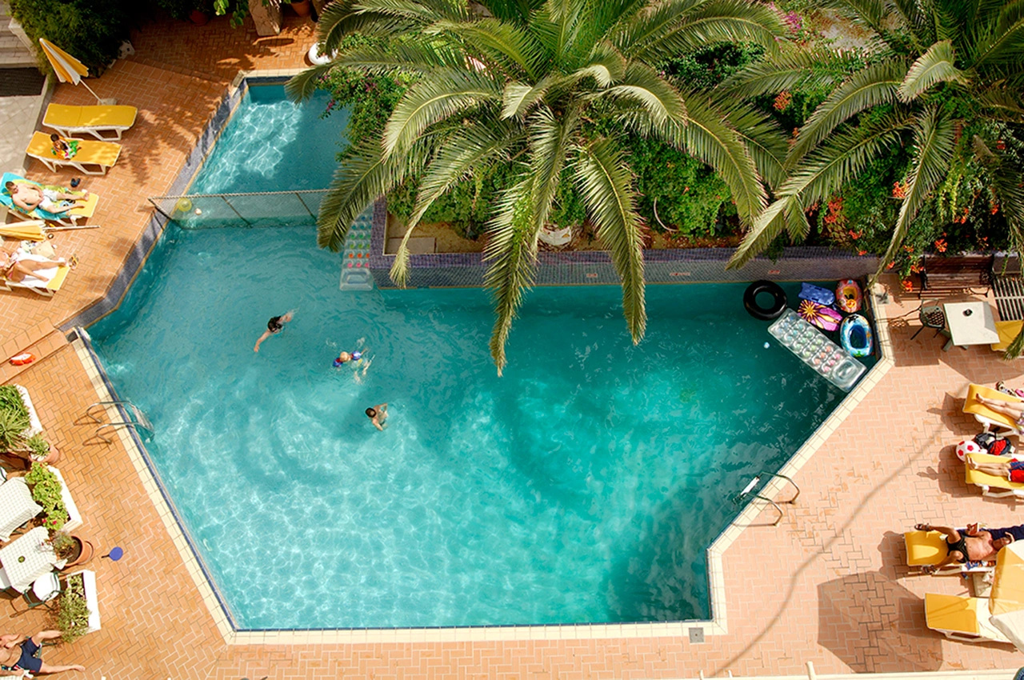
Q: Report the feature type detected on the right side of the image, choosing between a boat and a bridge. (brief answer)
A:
boat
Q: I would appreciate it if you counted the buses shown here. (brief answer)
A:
0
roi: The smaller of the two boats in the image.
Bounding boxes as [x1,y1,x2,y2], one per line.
[836,282,863,311]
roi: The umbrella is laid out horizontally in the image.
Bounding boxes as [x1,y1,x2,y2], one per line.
[0,220,99,243]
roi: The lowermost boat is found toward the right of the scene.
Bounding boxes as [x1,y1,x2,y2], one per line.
[840,314,875,356]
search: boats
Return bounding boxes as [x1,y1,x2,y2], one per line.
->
[836,282,863,311]
[840,314,875,356]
